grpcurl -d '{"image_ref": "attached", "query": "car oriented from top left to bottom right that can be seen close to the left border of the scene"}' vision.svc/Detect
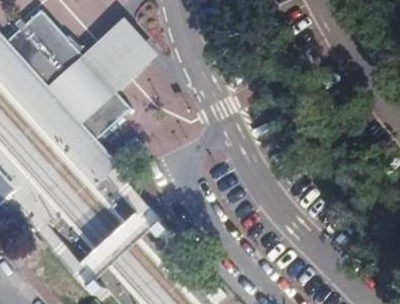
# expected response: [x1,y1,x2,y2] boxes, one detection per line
[0,256,14,276]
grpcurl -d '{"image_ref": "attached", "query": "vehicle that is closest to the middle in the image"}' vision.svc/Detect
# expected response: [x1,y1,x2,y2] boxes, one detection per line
[210,162,229,178]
